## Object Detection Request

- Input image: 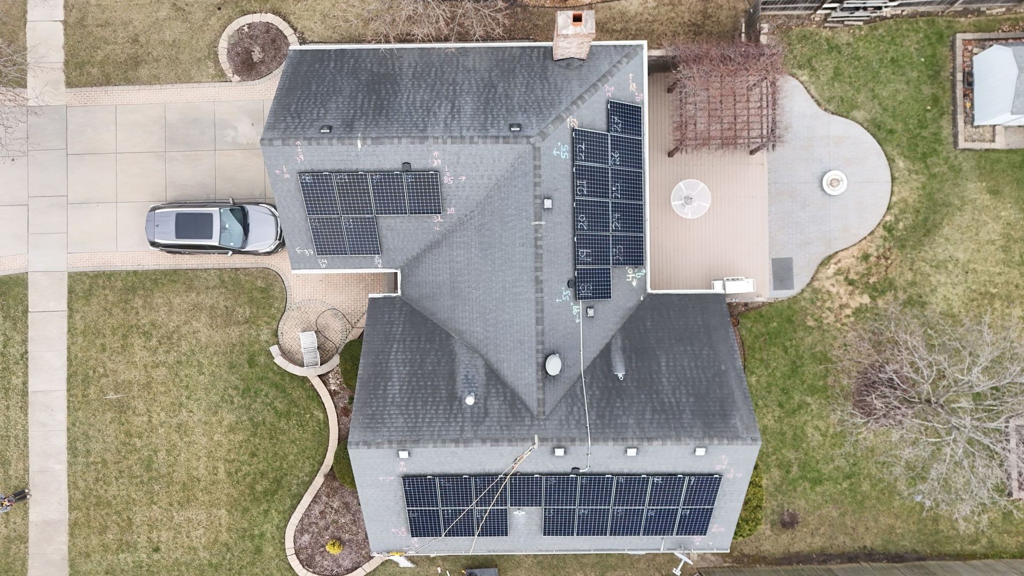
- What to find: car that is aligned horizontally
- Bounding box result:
[142,195,287,260]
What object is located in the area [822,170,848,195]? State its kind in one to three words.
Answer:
fountain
